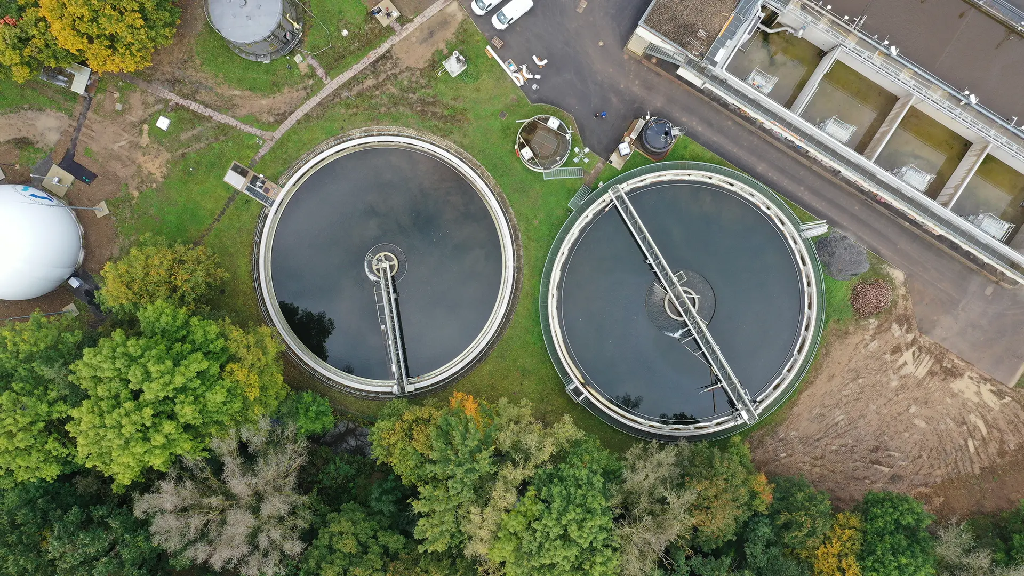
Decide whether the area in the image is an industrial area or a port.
industrial area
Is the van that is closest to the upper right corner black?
No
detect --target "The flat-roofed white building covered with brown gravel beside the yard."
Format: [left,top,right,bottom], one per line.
[625,0,742,65]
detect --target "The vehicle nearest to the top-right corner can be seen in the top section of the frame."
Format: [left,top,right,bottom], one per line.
[492,0,533,32]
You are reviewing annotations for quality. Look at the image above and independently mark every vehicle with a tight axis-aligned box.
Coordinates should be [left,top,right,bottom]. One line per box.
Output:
[471,0,500,16]
[492,0,533,32]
